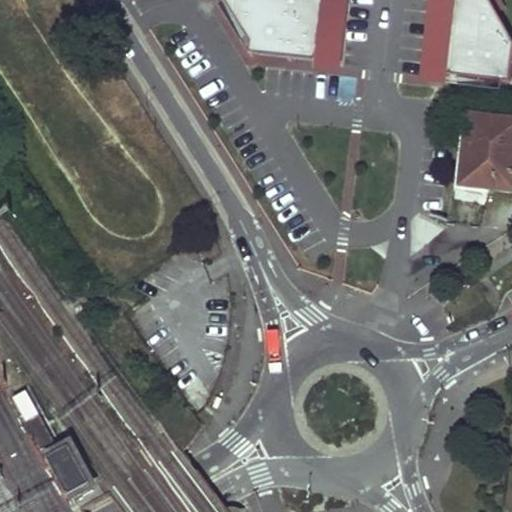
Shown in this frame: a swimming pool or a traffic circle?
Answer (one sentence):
The image shows a traffic circle.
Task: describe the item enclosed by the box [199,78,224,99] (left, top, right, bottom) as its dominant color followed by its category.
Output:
white vehicle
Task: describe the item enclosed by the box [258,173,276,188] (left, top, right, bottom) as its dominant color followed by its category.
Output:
white car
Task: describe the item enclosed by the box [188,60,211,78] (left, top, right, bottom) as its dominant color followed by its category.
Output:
white car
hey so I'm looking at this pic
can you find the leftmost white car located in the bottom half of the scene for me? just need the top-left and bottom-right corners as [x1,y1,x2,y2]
[146,328,167,346]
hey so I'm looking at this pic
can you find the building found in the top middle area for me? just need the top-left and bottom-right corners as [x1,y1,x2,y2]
[219,0,349,70]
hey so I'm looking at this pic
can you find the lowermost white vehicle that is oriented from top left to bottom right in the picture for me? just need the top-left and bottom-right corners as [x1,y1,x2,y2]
[410,314,430,338]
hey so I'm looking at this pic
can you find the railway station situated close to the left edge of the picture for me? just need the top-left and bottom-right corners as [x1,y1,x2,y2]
[0,384,72,512]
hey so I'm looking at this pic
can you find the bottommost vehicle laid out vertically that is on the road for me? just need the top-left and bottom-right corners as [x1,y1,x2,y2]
[267,325,282,372]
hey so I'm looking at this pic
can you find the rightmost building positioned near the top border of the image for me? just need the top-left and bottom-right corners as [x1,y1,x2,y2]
[420,0,512,90]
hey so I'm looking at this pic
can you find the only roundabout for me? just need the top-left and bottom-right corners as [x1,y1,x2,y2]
[264,334,418,474]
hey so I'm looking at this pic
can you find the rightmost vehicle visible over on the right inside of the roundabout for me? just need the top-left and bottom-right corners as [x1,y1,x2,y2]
[360,348,379,367]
